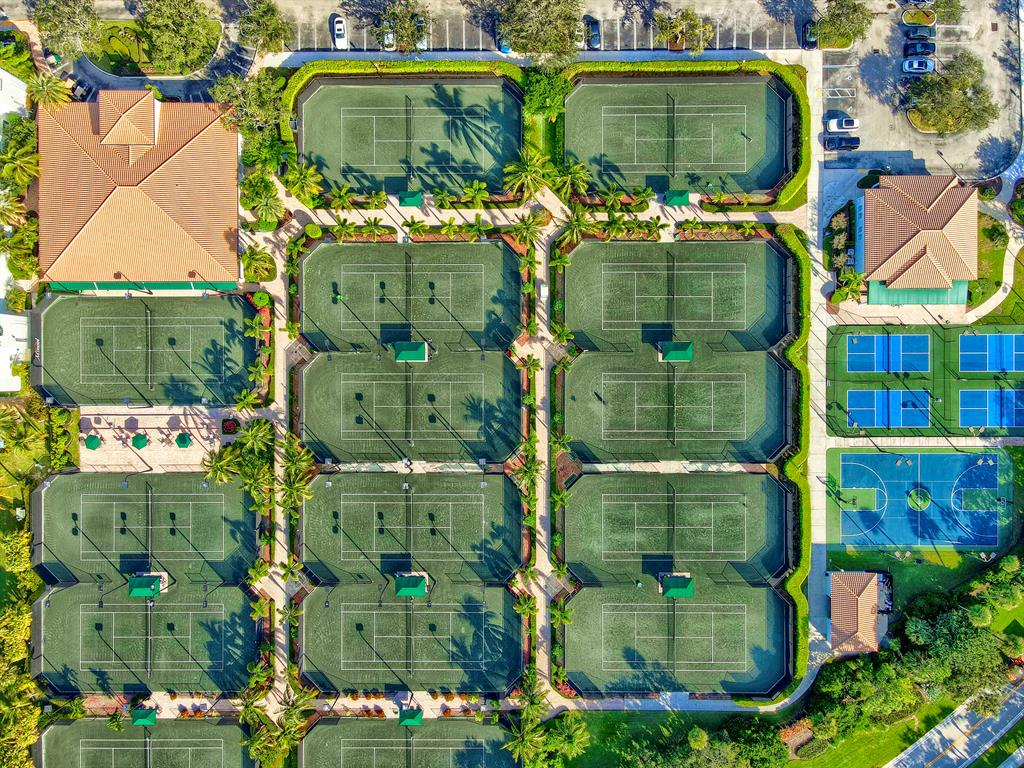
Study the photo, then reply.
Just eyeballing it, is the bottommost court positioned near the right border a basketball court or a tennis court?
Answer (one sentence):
It looks like the bottommost court positioned near the right border is a basketball court.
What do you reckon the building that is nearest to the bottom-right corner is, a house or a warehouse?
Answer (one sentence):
What you see as the building that is nearest to the bottom-right corner is a house.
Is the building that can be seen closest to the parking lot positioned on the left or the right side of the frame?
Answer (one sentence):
The building that can be seen closest to the parking lot is on the right side of the image.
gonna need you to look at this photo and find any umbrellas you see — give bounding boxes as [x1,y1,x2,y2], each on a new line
[84,434,102,449]
[131,434,148,449]
[175,433,192,448]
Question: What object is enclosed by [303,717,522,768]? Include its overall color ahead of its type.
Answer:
green tennis court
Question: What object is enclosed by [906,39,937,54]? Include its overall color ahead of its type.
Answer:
blue car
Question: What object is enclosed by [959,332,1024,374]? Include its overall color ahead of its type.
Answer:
blue sports court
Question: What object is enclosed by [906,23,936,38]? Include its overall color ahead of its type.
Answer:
blue car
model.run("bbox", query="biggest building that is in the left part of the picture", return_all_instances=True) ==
[38,89,248,292]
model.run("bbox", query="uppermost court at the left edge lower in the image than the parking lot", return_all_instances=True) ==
[42,295,254,405]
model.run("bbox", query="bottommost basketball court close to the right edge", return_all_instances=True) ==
[826,448,1013,552]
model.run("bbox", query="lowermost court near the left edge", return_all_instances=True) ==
[42,717,254,768]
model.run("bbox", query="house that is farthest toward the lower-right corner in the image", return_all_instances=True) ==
[827,572,878,650]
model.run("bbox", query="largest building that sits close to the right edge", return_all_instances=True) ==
[852,175,978,305]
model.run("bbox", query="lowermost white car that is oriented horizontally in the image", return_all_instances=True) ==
[828,116,859,131]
